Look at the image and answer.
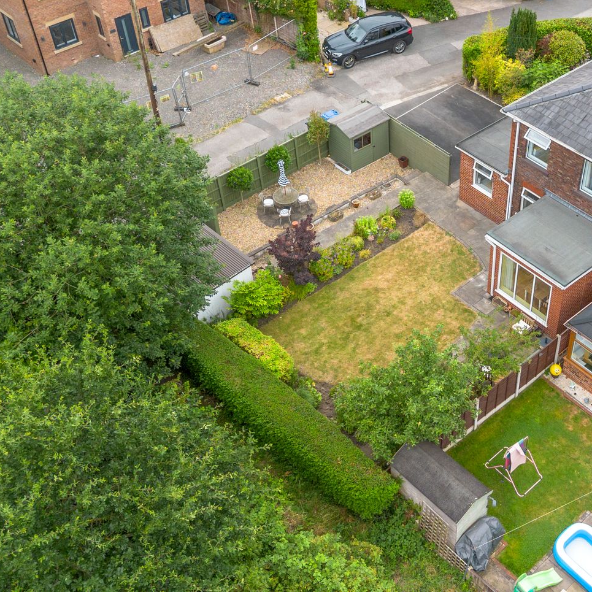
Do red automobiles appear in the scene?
No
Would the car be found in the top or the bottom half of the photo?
top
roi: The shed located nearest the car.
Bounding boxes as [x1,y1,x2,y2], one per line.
[326,104,392,174]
